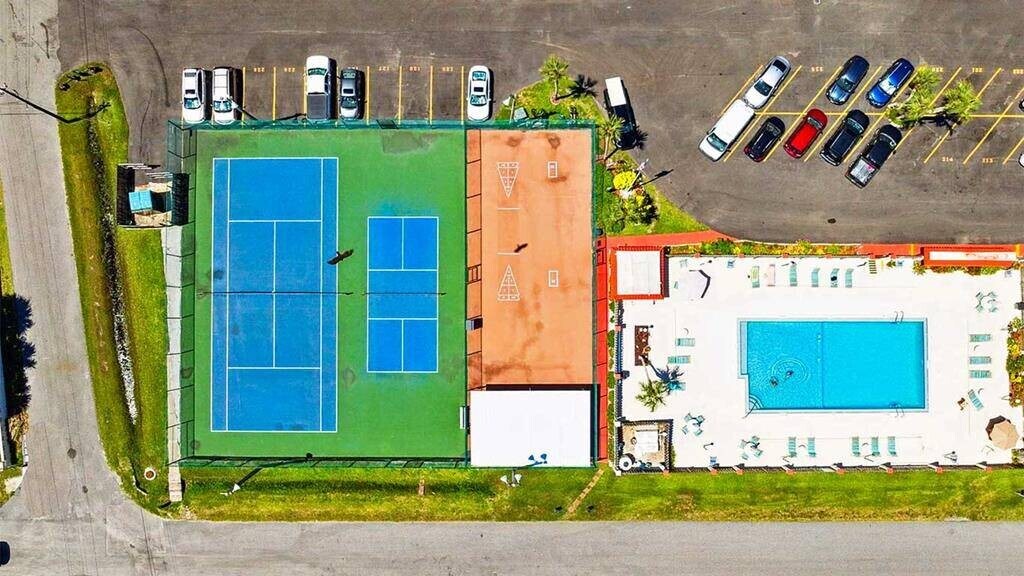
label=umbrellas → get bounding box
[680,270,711,301]
[983,418,1016,447]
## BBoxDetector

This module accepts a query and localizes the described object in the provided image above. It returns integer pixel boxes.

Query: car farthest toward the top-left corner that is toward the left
[180,67,211,121]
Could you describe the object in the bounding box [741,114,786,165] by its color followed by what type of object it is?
black car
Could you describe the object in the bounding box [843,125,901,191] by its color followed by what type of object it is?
black truck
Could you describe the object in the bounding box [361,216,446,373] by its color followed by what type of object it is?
blue sports court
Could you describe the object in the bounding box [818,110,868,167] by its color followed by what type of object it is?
black car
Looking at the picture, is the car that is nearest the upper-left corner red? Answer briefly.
No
